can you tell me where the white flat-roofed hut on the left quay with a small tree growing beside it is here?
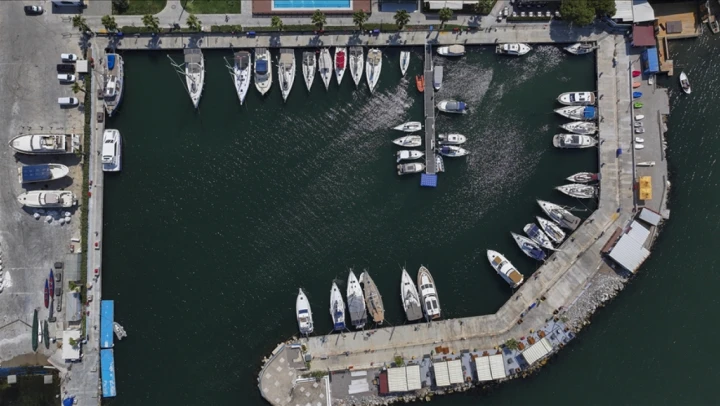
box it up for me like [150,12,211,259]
[63,330,85,359]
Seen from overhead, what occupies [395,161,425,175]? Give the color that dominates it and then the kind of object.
gray boat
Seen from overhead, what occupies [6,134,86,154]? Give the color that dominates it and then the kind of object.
white boat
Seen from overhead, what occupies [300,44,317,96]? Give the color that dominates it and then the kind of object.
gray boat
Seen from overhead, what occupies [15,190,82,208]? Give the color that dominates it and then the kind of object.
white boat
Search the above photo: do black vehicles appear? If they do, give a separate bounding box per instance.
[24,5,45,15]
[56,63,77,73]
